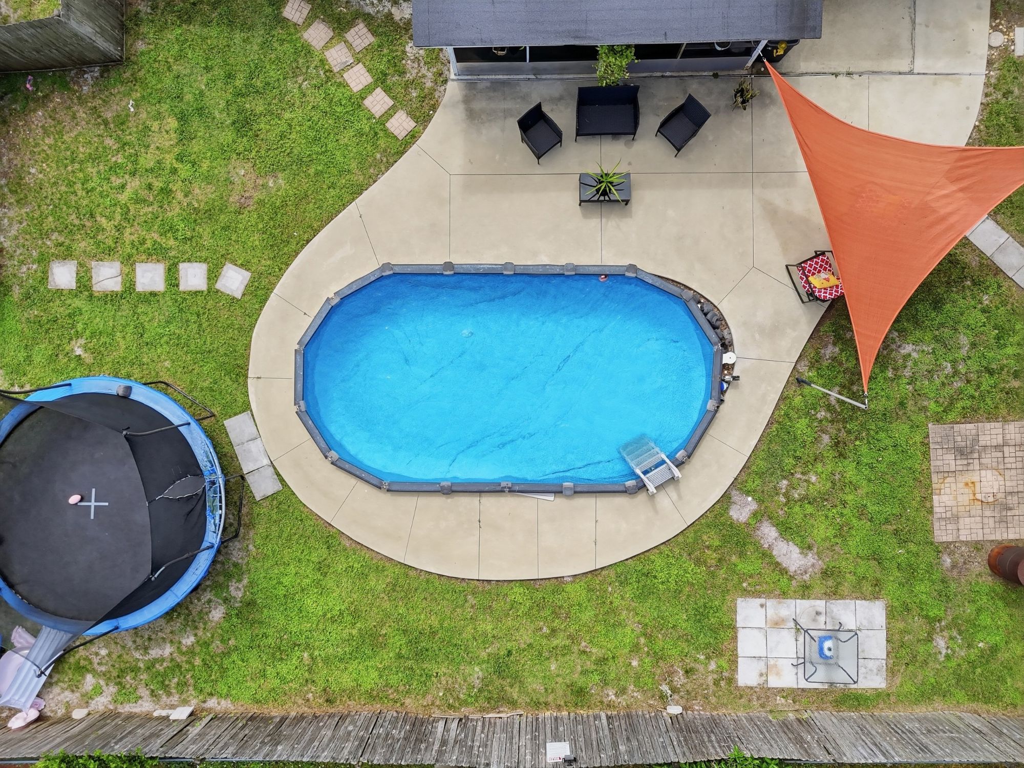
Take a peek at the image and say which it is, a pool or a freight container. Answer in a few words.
pool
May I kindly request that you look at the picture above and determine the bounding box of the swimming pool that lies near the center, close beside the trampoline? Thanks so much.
[294,262,722,495]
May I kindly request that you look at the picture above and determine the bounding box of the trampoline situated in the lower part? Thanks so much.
[0,376,246,671]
